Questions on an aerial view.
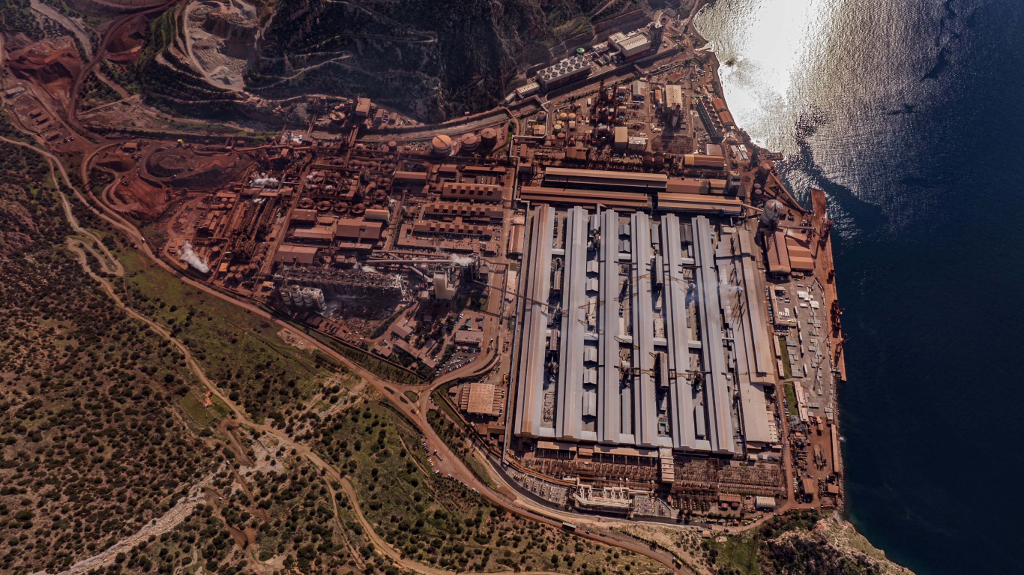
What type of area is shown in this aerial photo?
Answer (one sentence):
This looks like a port.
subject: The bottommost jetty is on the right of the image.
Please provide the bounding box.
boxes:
[810,190,847,382]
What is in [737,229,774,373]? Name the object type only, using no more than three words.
house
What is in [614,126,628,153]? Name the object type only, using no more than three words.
building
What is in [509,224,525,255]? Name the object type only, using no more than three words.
shed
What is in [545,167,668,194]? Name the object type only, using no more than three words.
building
